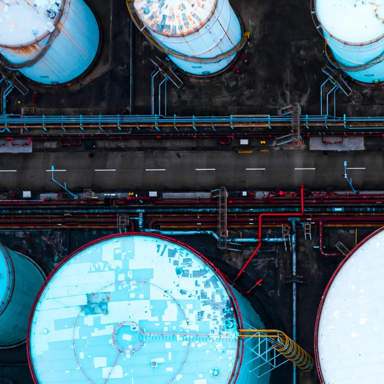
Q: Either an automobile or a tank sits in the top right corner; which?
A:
tank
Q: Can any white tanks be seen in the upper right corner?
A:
Yes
